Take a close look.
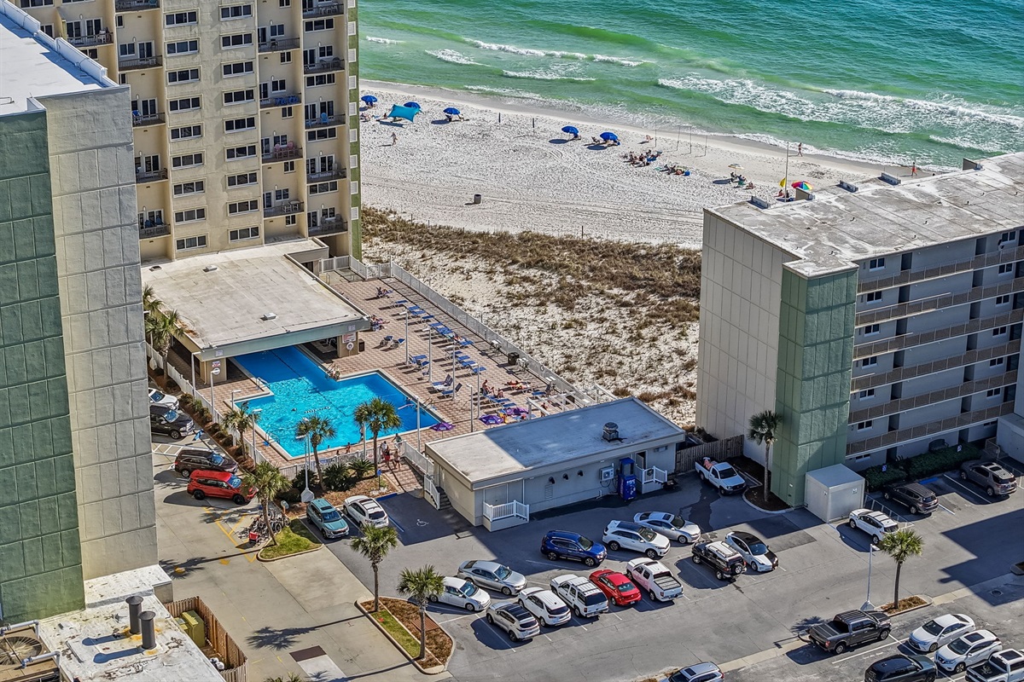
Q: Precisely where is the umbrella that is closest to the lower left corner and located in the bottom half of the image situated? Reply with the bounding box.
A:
[431,416,455,428]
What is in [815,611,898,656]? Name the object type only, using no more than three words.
truck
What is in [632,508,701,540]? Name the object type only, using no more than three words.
car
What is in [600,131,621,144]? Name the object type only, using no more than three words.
umbrella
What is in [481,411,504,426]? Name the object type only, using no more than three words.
umbrella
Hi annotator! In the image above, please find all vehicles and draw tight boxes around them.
[149,409,192,442]
[515,586,572,628]
[599,519,672,558]
[173,446,241,476]
[951,458,1017,496]
[483,601,544,644]
[959,645,1024,682]
[856,647,938,682]
[843,507,902,542]
[424,575,493,610]
[723,528,775,568]
[460,559,532,593]
[550,573,609,619]
[692,457,749,493]
[623,556,682,602]
[909,608,979,647]
[655,664,723,682]
[589,568,640,607]
[815,611,898,656]
[147,380,187,411]
[632,508,701,540]
[305,497,350,538]
[537,528,609,566]
[188,470,260,503]
[342,491,390,527]
[878,479,940,515]
[934,625,1008,669]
